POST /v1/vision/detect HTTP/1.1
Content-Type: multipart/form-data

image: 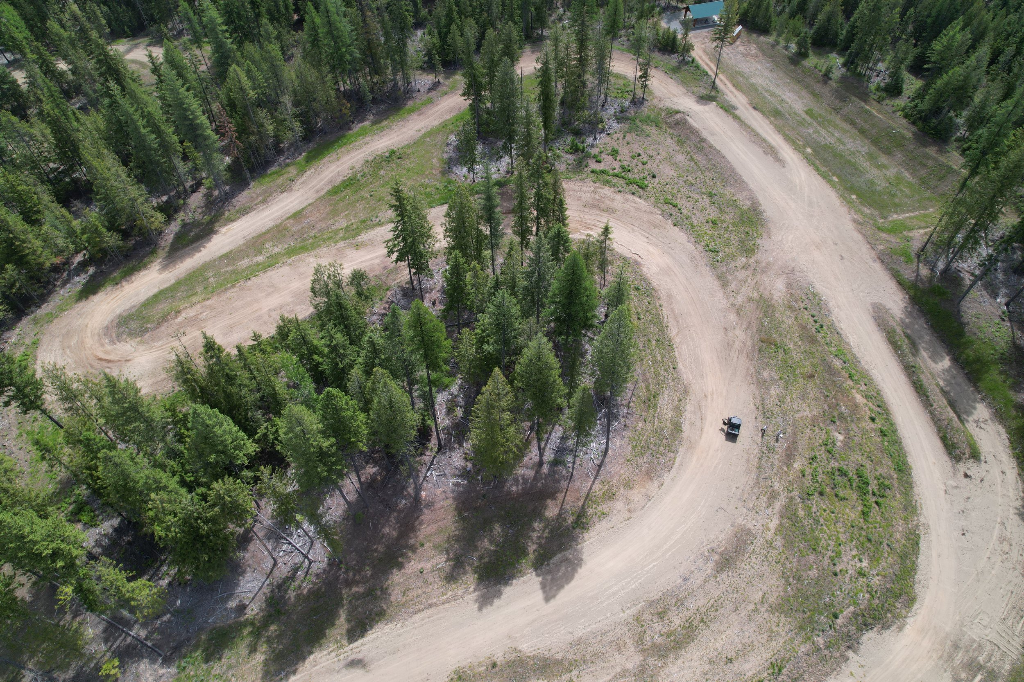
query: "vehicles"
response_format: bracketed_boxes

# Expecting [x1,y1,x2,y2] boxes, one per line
[722,415,741,435]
